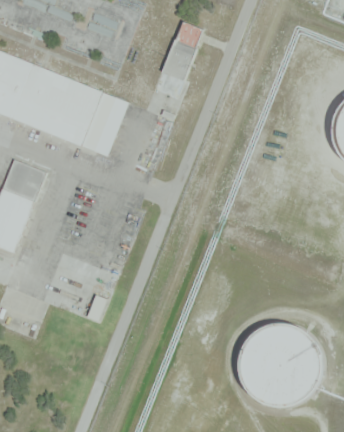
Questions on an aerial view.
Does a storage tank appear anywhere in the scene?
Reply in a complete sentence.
Yes, I can see a storage tank in this picture.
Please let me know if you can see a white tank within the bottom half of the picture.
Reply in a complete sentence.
Yes, I can see a white tank within the bottom half of the picture.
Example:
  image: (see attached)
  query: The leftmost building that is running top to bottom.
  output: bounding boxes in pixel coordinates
[0,160,48,253]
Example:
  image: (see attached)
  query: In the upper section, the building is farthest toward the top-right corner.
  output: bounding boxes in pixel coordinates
[162,22,203,80]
